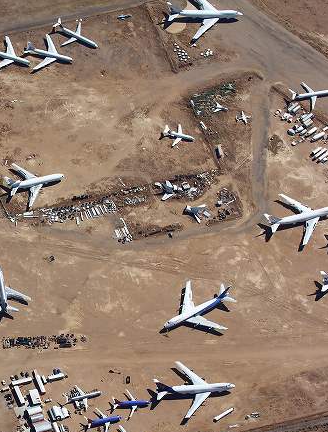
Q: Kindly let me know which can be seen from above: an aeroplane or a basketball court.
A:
aeroplane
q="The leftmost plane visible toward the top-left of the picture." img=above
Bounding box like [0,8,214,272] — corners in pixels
[0,36,30,66]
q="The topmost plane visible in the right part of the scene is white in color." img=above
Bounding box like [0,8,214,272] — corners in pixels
[168,0,243,39]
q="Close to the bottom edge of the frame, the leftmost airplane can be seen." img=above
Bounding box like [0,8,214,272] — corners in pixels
[64,387,101,411]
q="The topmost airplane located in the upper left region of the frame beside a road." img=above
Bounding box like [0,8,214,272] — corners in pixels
[51,17,98,48]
